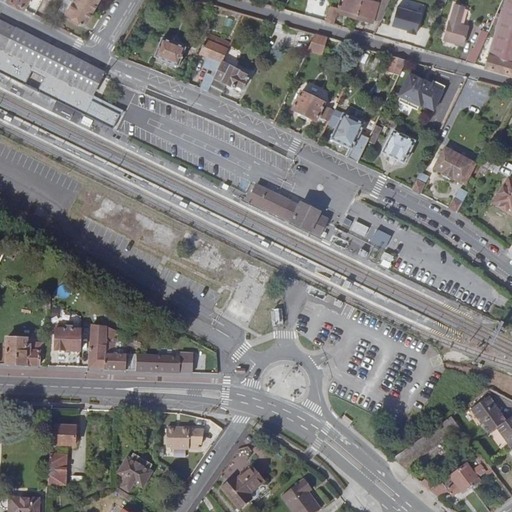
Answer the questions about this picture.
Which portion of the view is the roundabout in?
bottom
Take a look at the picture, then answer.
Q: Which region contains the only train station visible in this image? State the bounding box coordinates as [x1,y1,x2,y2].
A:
[0,76,474,345]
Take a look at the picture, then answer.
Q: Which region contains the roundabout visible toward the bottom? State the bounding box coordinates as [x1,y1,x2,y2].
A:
[233,331,337,424]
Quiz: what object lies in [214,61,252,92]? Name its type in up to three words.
house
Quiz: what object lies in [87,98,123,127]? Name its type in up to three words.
shed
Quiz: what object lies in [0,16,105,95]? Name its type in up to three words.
building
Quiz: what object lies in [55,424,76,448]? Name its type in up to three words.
house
